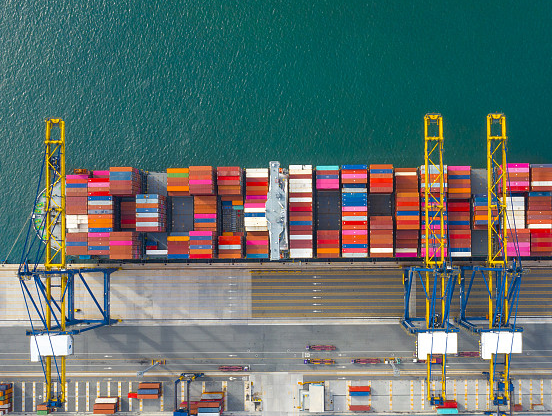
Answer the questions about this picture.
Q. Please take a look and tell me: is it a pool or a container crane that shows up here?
container crane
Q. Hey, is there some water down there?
Yes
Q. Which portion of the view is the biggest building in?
bottom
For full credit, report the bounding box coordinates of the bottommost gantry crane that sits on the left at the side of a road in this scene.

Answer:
[174,374,203,416]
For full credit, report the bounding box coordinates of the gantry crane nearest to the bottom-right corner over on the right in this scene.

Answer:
[485,372,515,416]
